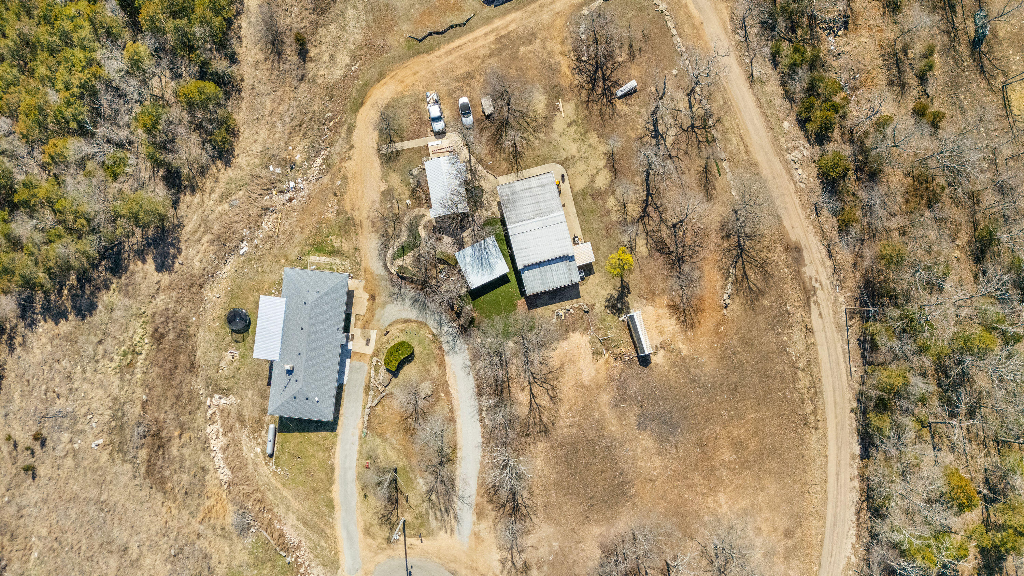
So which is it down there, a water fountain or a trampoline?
trampoline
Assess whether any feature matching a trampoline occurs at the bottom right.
No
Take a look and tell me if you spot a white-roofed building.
Yes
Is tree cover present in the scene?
Yes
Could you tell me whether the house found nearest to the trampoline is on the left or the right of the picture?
left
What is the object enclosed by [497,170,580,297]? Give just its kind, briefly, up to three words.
building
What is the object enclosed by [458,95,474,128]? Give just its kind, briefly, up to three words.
car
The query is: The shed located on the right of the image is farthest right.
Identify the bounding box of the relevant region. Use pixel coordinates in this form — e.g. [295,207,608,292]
[627,311,653,356]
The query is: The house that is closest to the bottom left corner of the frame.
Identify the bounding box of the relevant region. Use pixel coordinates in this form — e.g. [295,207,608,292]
[268,267,351,422]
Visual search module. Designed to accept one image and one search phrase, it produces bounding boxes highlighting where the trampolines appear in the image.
[217,305,249,331]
